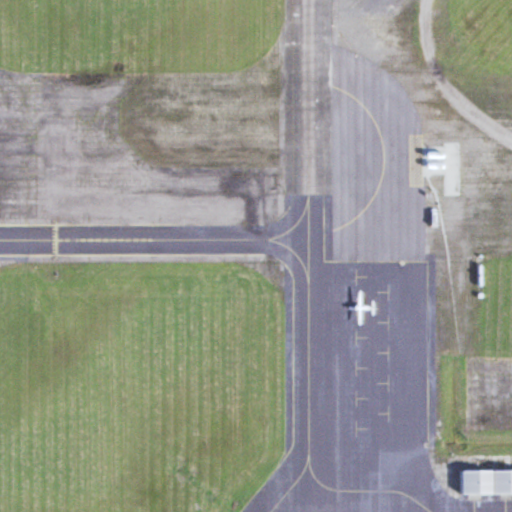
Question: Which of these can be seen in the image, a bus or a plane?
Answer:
plane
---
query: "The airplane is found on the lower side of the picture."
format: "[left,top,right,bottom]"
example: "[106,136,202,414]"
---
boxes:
[348,290,377,326]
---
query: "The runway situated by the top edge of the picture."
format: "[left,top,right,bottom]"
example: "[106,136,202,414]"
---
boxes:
[286,0,332,196]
